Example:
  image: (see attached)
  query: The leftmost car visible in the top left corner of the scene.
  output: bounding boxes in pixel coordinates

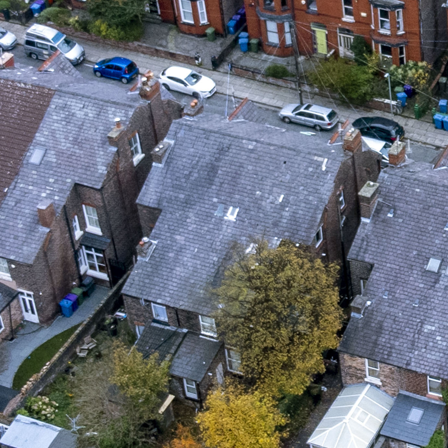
[0,23,21,50]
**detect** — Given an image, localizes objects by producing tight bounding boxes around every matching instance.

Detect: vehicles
[275,100,339,133]
[26,22,94,69]
[0,23,21,50]
[154,65,216,99]
[92,55,141,83]
[355,118,415,149]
